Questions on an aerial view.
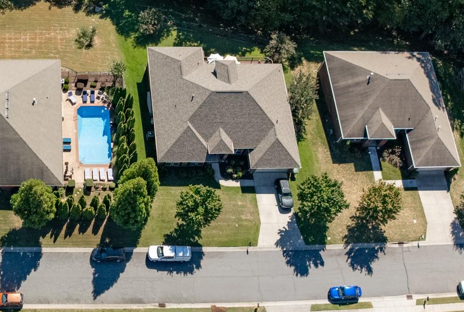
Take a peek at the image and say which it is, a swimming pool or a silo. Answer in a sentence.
There is a swimming pool in the scene.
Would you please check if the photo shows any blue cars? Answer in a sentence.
Yes, the picture does show a blue car.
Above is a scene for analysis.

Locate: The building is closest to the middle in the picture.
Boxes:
[147,47,301,173]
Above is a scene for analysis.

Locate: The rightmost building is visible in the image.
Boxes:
[320,52,462,173]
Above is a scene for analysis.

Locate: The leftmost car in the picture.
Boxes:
[0,289,24,308]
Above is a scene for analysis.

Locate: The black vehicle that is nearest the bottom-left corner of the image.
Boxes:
[91,245,125,262]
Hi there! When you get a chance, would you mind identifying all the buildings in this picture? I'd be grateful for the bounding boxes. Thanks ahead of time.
[0,59,64,191]
[320,52,462,173]
[147,47,301,173]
